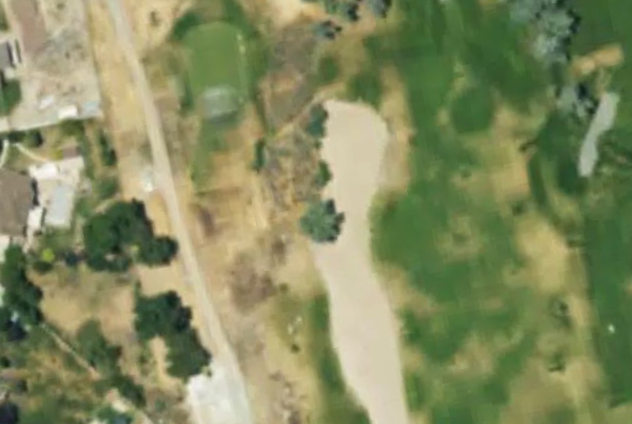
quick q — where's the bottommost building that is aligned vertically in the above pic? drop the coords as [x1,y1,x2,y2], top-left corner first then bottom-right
[0,168,34,240]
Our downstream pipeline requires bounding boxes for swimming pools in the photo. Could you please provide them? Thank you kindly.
[49,184,72,219]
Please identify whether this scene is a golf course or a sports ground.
golf course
